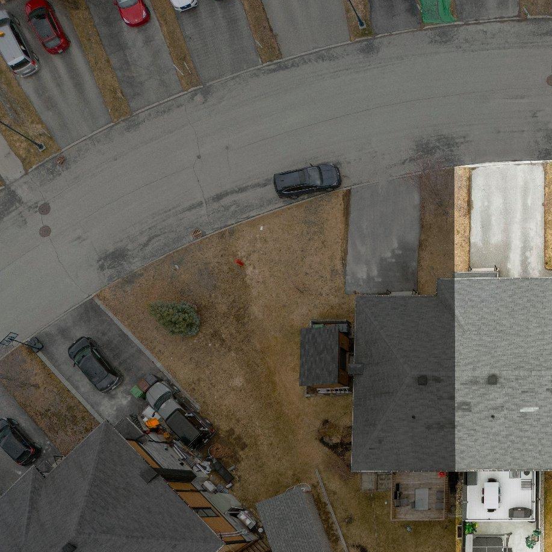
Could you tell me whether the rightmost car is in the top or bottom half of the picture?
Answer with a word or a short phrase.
top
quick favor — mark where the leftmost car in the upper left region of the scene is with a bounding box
[0,6,44,81]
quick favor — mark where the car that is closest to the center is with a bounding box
[273,159,345,201]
